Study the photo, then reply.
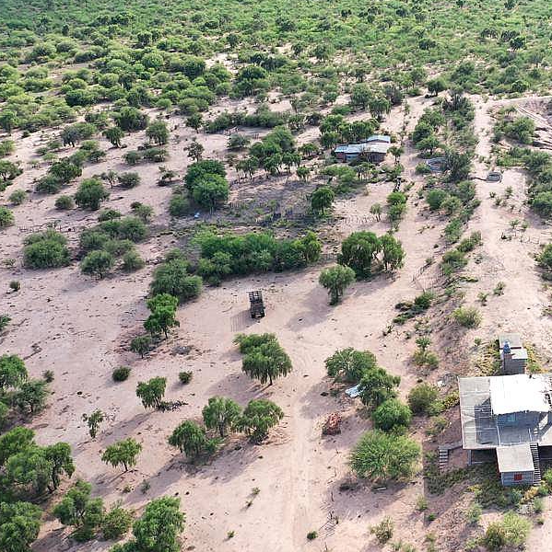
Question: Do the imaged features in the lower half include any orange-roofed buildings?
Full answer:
No, the scene shows no orange-roofed building in the lower half.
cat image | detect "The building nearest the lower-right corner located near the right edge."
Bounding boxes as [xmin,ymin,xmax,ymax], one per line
[439,371,552,484]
